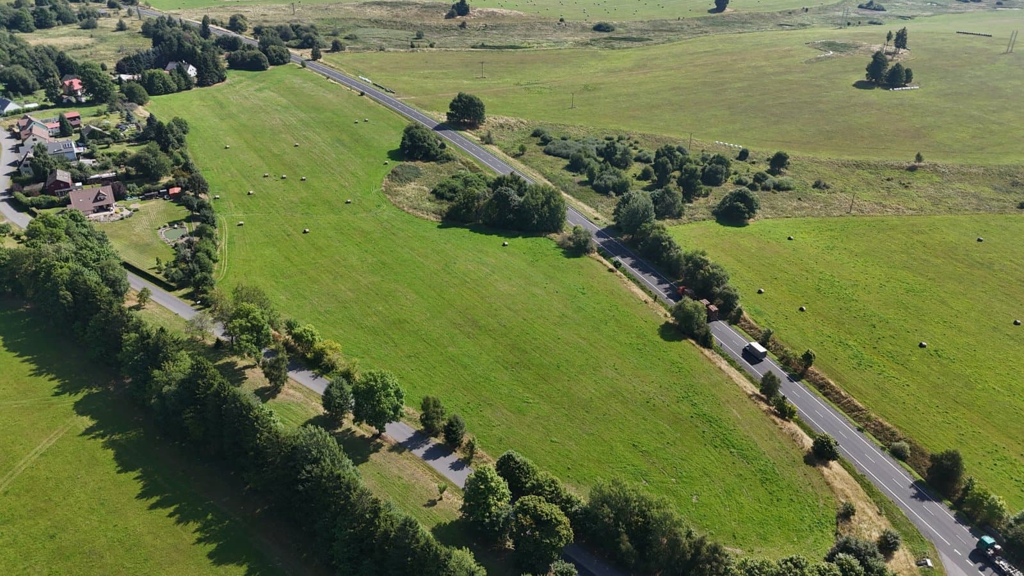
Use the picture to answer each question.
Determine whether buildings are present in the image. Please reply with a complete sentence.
Yes, you can see a building in this photo.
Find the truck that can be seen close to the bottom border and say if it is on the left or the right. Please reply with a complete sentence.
The truck that can be seen close to the bottom border sits on the right side.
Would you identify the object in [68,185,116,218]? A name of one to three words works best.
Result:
house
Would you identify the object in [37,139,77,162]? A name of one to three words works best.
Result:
house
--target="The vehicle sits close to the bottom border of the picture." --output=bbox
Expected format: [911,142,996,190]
[970,534,1020,576]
